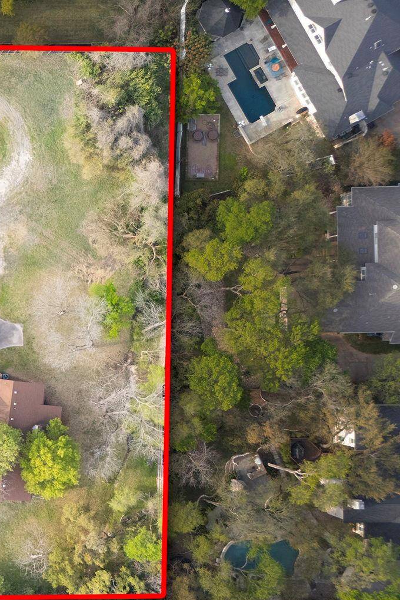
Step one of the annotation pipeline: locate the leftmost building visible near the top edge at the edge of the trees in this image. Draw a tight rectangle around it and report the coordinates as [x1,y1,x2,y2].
[194,0,241,41]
